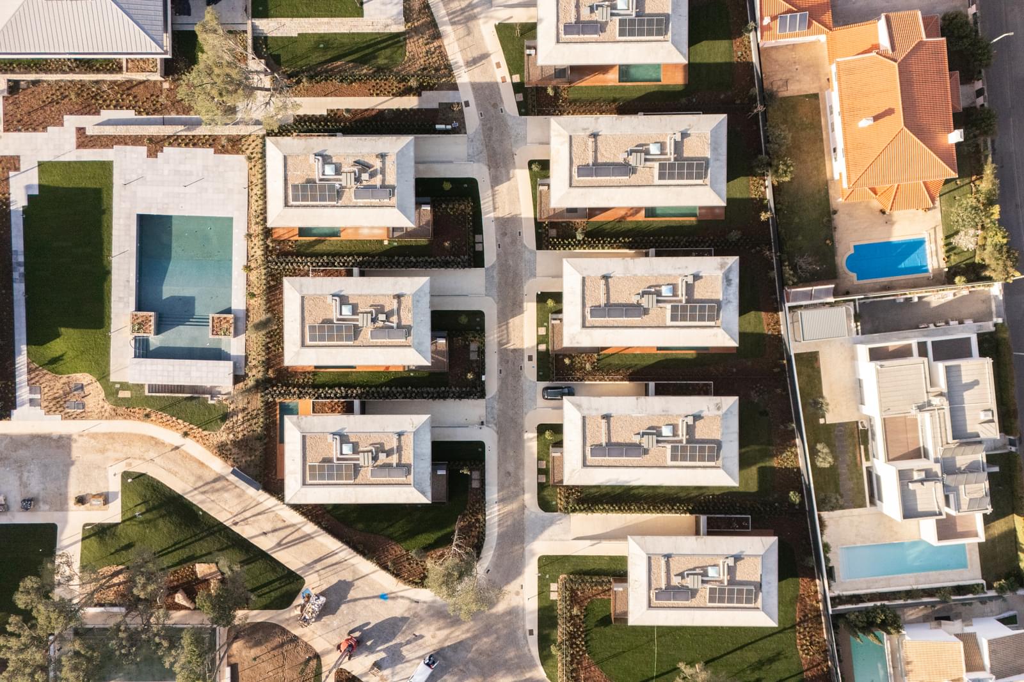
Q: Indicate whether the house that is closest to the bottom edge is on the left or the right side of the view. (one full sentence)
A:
The house that is closest to the bottom edge is on the right side of the image.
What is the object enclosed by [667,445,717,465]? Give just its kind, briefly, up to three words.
solar array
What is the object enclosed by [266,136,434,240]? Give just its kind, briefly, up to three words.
house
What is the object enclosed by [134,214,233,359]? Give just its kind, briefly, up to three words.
swimming pool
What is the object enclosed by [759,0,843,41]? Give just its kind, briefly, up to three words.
building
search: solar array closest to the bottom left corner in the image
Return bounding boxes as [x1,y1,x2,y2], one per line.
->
[307,464,353,485]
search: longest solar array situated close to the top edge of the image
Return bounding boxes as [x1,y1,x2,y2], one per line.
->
[619,19,665,41]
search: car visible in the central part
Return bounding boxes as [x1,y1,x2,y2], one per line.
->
[544,386,574,400]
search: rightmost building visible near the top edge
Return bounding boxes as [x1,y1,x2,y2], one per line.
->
[819,7,973,211]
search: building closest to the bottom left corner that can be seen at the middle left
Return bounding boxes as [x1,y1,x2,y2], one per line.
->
[129,359,234,402]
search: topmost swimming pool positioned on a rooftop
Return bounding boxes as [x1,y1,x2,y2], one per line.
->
[619,65,661,81]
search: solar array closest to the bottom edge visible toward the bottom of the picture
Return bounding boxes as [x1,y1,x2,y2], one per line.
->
[709,585,755,606]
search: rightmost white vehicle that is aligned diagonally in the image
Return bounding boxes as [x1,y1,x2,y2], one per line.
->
[409,654,438,682]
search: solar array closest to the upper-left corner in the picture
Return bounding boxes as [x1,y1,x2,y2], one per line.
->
[289,183,335,205]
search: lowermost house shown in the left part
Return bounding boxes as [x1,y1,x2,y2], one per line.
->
[277,400,448,504]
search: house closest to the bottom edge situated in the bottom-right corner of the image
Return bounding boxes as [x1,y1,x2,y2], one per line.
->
[891,606,1024,682]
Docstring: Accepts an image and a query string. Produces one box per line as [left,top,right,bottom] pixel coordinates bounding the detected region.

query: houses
[266,136,434,240]
[819,7,973,211]
[283,277,449,371]
[891,606,1024,682]
[549,256,739,353]
[843,334,1000,546]
[277,400,448,504]
[549,397,739,486]
[537,114,727,223]
[610,536,778,626]
[525,0,688,90]
[0,0,173,58]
